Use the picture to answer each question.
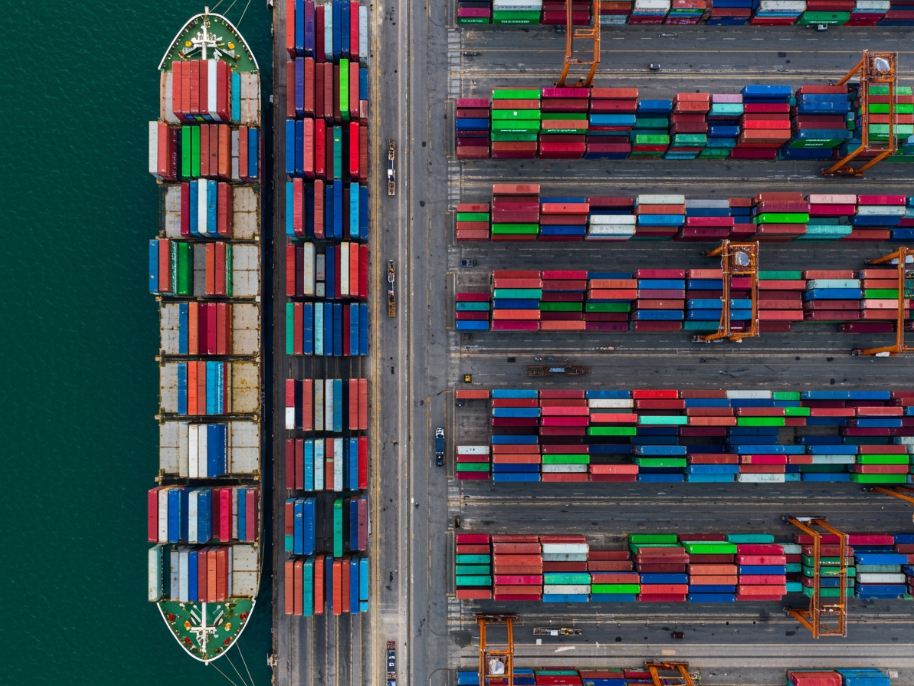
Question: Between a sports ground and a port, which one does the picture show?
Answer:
port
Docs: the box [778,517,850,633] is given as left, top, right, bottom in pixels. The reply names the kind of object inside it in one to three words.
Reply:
container crane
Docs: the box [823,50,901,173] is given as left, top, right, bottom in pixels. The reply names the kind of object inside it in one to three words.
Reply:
container crane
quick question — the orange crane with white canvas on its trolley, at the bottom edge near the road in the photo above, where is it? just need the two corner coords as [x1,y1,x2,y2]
[473,614,516,686]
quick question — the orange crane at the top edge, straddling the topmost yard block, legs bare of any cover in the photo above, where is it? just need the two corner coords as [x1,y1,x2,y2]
[553,0,603,86]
